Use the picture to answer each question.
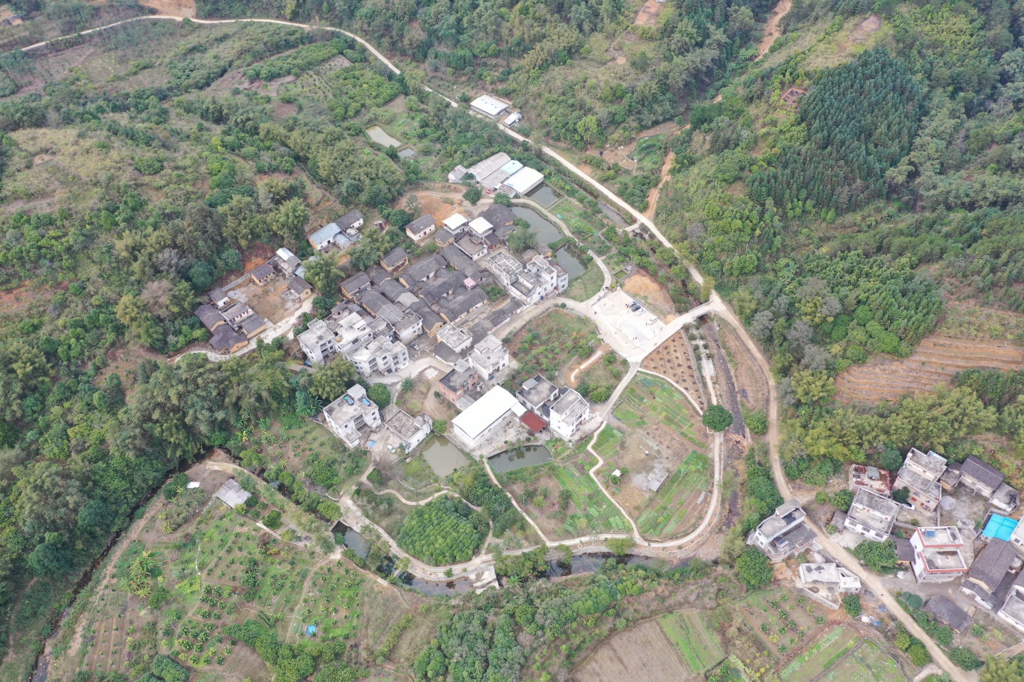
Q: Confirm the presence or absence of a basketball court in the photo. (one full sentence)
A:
No, I find no basketball court anywhere in the image.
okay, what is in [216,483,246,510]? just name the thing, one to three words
shed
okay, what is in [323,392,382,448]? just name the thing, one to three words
house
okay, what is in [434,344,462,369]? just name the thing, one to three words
building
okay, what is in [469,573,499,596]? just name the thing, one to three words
dam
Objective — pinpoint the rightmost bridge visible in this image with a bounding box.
[665,296,725,325]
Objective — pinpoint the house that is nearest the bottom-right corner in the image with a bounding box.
[991,594,1024,646]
